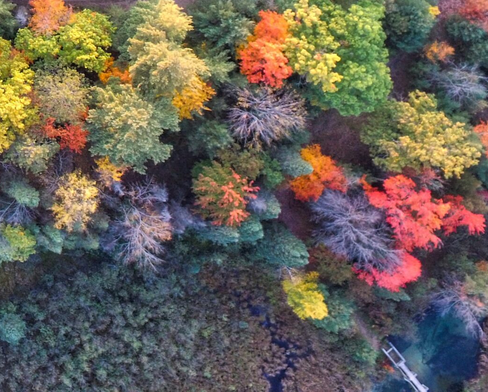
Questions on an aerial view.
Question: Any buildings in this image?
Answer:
No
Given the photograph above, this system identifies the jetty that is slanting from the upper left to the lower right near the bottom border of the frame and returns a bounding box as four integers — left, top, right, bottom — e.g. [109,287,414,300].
[382,340,429,392]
